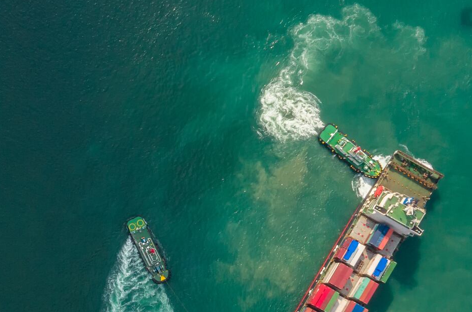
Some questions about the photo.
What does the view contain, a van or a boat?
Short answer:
boat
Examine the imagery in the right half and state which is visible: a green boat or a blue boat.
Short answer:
green boat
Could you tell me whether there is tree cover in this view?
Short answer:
No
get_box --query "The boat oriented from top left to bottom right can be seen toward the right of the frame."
[313,123,384,177]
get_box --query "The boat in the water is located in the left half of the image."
[125,217,168,285]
